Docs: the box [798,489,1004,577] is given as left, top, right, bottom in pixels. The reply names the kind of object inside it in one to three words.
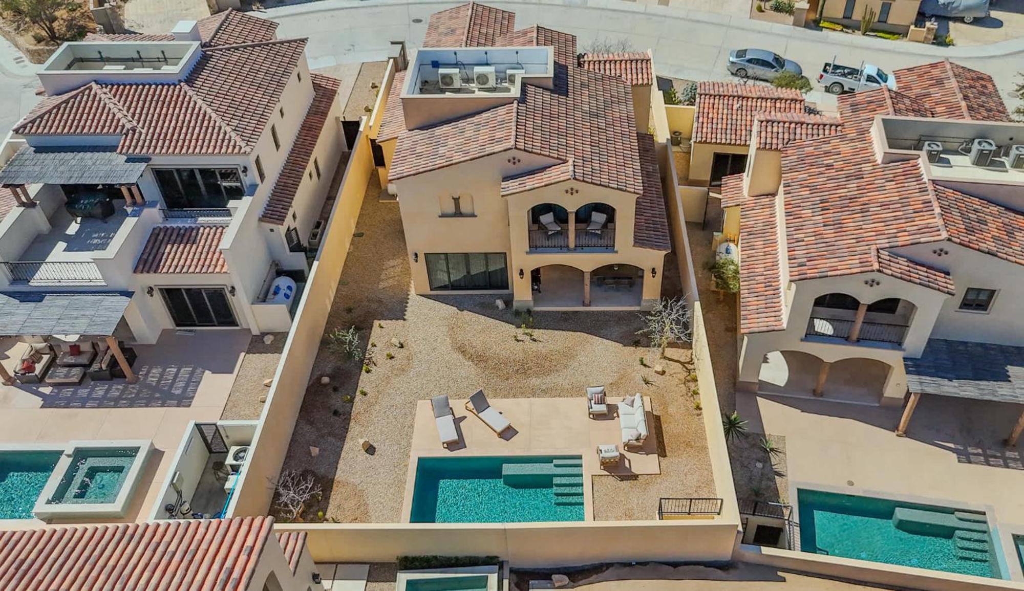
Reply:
swimming pool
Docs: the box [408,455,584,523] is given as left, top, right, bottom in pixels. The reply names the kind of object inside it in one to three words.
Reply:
swimming pool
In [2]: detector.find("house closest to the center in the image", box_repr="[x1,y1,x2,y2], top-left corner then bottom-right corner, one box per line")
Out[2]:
[375,0,675,308]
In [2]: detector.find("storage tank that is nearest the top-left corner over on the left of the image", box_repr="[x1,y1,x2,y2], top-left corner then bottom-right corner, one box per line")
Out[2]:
[271,269,302,304]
